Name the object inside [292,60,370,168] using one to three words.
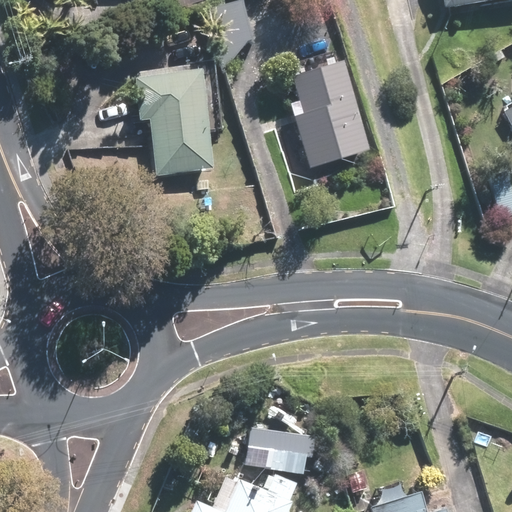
house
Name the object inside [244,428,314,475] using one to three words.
shed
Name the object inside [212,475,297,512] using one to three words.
house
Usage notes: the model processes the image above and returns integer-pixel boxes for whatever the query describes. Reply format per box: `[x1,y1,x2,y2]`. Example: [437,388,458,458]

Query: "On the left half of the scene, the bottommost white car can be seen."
[98,104,127,120]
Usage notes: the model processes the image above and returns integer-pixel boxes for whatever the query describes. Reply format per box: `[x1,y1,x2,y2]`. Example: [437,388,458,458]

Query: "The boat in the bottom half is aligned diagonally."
[266,406,306,436]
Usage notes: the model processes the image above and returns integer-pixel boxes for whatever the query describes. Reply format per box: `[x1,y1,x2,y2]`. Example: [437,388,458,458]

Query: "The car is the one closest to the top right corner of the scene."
[298,40,328,58]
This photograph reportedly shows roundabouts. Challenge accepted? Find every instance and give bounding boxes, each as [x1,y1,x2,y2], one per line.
[47,306,139,398]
